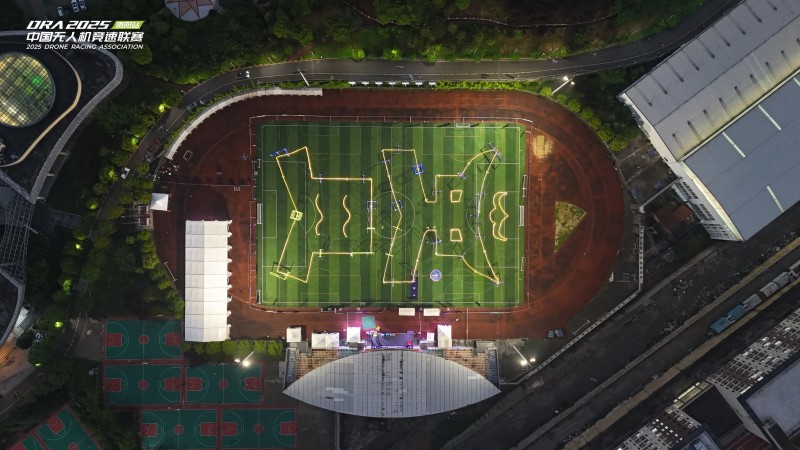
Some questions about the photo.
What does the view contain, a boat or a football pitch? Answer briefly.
football pitch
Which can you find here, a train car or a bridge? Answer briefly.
train car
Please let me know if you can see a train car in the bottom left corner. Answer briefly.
No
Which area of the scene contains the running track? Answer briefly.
center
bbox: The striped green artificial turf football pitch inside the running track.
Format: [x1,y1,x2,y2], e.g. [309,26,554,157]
[257,122,526,307]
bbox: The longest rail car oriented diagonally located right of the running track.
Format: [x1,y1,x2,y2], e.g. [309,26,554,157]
[711,304,748,334]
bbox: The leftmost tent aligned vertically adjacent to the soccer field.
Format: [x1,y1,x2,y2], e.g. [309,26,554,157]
[185,219,232,343]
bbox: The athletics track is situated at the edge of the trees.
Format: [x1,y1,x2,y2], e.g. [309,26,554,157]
[156,89,626,340]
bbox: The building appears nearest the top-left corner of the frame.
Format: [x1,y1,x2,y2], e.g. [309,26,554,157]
[0,29,136,205]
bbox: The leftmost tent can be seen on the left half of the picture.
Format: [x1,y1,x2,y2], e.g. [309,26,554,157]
[151,193,169,210]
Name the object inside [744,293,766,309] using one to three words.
rail car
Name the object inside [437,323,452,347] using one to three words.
tent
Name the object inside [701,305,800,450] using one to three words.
building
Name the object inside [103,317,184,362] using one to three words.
basketball court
